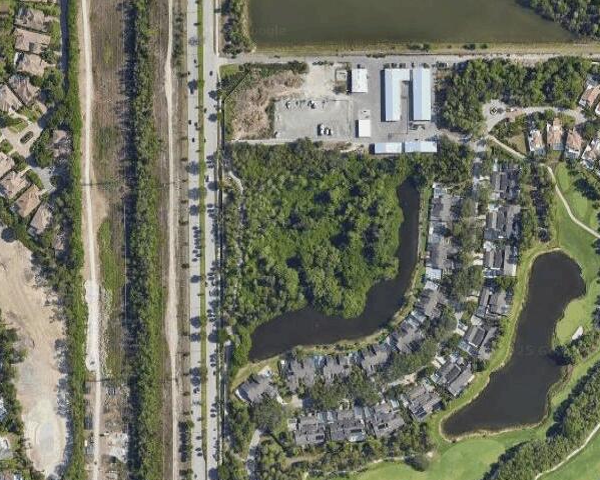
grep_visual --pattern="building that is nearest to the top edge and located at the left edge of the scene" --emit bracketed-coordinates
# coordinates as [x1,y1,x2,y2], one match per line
[20,8,47,26]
